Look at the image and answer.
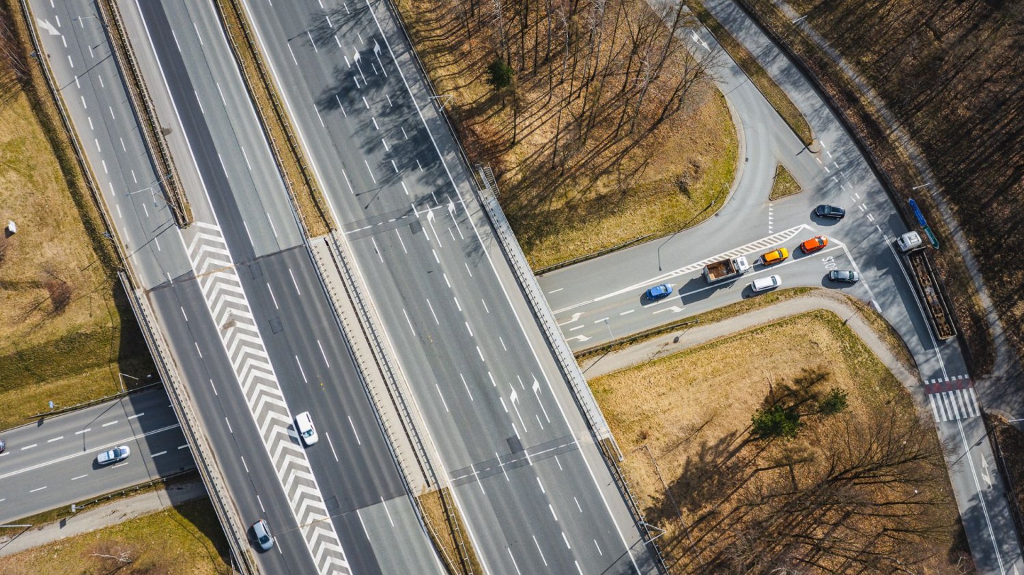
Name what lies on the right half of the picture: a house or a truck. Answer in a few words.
truck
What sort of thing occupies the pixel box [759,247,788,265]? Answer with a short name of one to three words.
car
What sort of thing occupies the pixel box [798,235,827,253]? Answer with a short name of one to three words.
car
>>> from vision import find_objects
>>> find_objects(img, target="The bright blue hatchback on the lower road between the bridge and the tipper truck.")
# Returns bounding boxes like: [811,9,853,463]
[645,283,673,301]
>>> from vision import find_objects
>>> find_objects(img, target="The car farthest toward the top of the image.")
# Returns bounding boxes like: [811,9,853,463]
[814,203,846,220]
